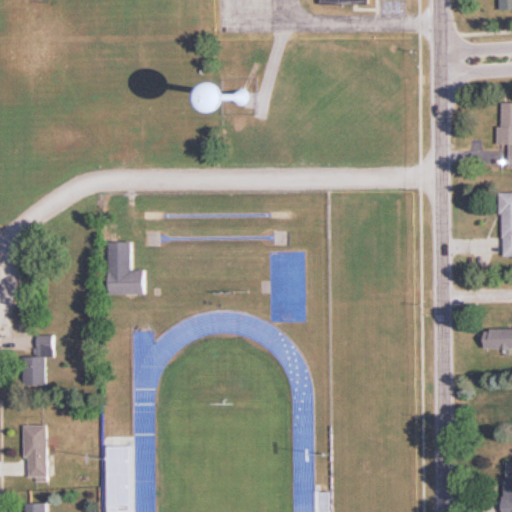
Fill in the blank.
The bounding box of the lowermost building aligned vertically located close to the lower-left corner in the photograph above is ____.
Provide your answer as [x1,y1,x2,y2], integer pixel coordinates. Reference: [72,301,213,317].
[22,424,49,484]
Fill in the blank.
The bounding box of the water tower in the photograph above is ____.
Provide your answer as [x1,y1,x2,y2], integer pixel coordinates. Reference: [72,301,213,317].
[190,80,250,112]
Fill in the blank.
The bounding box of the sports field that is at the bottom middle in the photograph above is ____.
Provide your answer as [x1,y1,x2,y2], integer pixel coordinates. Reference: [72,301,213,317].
[156,332,294,512]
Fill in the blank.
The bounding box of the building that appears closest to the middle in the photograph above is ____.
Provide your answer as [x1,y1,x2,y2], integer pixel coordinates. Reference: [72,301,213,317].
[107,242,146,296]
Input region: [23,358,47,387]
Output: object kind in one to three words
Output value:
house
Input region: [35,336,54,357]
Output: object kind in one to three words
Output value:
building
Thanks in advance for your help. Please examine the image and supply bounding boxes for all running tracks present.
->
[132,310,316,512]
